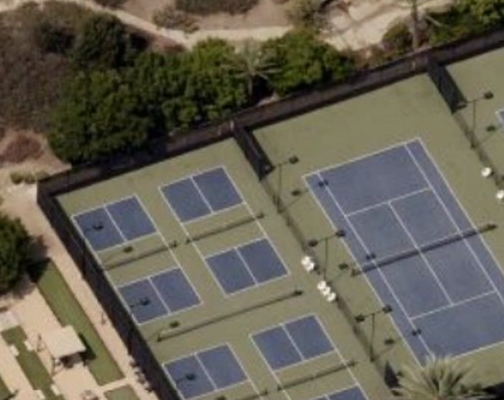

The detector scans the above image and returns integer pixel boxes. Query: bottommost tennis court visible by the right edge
[305,140,504,369]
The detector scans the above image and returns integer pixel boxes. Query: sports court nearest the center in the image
[159,166,289,295]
